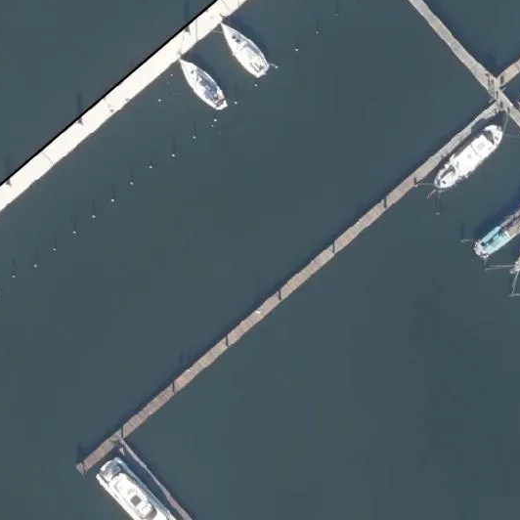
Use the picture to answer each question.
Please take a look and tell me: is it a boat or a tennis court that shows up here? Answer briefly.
boat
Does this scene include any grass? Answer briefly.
No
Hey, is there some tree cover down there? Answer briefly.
No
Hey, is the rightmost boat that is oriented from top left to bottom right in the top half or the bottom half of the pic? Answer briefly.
top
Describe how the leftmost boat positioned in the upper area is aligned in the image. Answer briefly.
diagonally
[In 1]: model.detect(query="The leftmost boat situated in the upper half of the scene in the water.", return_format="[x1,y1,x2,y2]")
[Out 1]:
[180,60,227,111]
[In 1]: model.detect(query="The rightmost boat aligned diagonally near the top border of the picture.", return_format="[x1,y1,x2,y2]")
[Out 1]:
[221,23,270,77]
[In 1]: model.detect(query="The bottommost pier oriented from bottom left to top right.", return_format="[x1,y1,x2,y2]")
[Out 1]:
[81,127,468,470]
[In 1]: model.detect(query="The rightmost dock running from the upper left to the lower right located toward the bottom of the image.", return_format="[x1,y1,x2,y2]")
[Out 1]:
[121,441,195,520]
